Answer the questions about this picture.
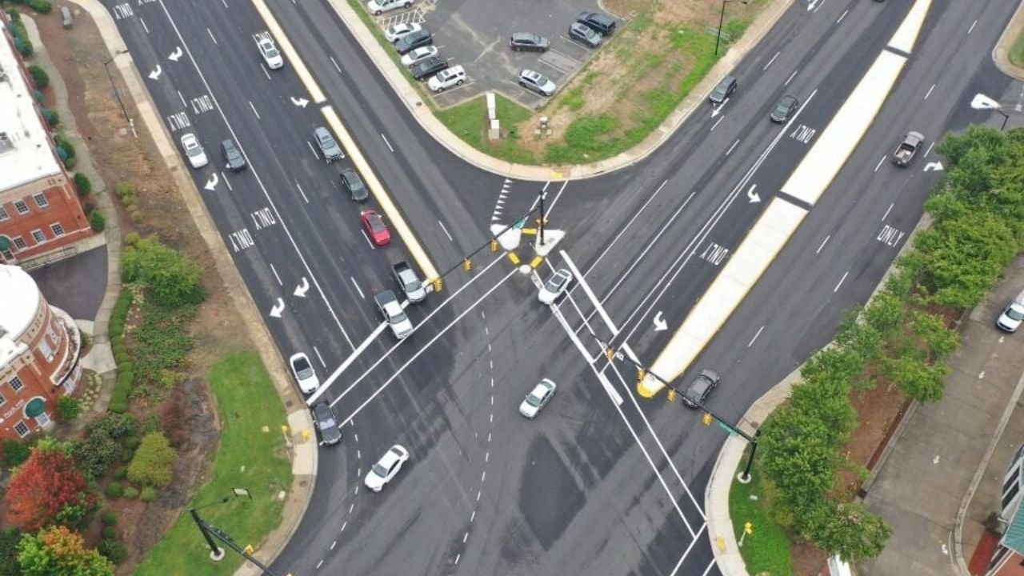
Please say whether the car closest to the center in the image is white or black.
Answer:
white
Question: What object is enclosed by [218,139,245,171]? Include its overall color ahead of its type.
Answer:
gray car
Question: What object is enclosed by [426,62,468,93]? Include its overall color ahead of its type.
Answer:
white car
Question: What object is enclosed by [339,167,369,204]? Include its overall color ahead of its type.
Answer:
gray car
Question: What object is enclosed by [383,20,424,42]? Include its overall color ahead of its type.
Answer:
white car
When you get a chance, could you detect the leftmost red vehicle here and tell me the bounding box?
[360,209,391,247]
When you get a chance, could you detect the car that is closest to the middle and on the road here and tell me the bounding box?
[538,267,574,307]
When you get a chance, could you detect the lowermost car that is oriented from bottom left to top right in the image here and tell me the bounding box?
[365,443,409,494]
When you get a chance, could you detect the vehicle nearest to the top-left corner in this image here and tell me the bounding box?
[179,131,208,168]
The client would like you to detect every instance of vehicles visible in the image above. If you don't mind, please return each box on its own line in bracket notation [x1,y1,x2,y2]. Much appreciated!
[400,44,440,68]
[510,34,550,55]
[709,72,740,105]
[218,139,245,171]
[566,20,604,49]
[288,351,321,397]
[339,167,369,204]
[383,20,424,42]
[426,62,468,93]
[681,367,719,412]
[395,28,435,55]
[258,37,284,67]
[577,9,617,35]
[890,131,925,169]
[360,209,391,247]
[538,267,574,307]
[365,443,409,494]
[410,53,451,81]
[770,94,800,125]
[516,67,556,97]
[373,287,415,340]
[517,376,558,422]
[388,255,428,306]
[179,131,208,168]
[311,401,343,446]
[312,125,342,162]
